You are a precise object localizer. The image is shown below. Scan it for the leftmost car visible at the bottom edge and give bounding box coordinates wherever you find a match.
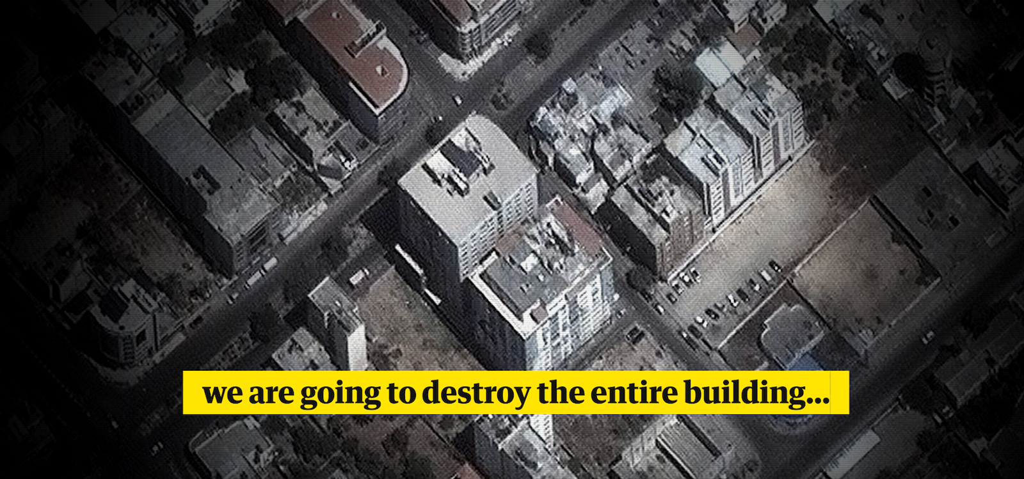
[149,443,163,456]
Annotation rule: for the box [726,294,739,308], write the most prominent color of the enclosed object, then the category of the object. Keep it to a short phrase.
white vehicle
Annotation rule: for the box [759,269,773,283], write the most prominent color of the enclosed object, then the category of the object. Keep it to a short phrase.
white car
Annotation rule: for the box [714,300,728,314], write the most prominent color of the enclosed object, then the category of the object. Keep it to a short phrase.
gray car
